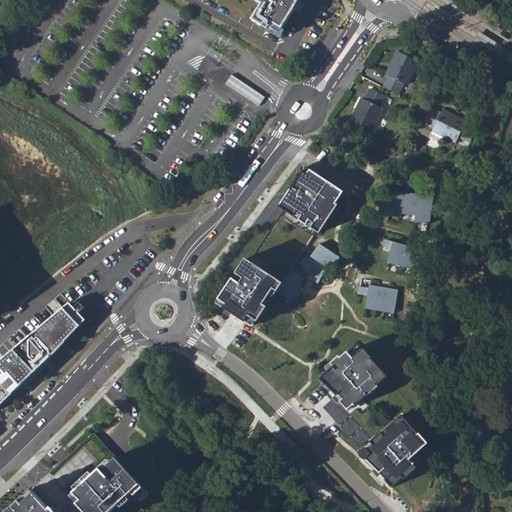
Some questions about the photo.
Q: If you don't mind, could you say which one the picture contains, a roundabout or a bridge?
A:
roundabout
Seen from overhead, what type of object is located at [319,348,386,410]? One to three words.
building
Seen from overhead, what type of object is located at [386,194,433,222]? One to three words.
house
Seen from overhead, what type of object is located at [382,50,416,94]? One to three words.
house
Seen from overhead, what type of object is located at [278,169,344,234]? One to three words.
building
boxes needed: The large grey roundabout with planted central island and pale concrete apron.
[132,281,194,343]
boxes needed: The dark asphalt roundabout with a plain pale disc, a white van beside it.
[278,85,328,136]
